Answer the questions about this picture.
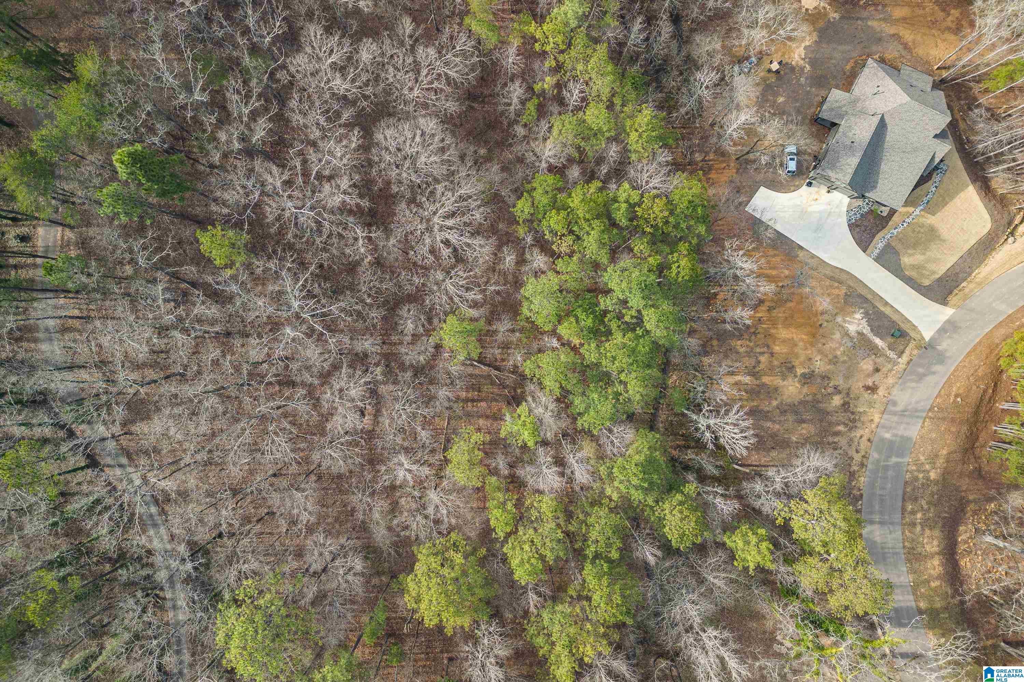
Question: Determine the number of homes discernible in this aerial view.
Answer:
1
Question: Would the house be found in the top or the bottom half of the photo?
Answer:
top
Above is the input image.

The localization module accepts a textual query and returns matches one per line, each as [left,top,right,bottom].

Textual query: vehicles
[784,144,801,176]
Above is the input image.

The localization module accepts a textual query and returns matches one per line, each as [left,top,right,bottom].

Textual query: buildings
[805,57,953,212]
